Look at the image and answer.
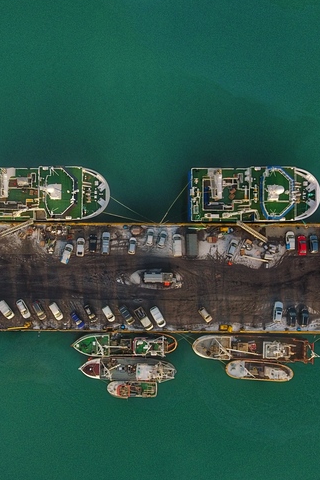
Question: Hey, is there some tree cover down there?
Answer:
No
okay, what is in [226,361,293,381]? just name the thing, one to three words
boat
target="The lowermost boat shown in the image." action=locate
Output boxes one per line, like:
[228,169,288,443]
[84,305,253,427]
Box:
[107,381,158,402]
